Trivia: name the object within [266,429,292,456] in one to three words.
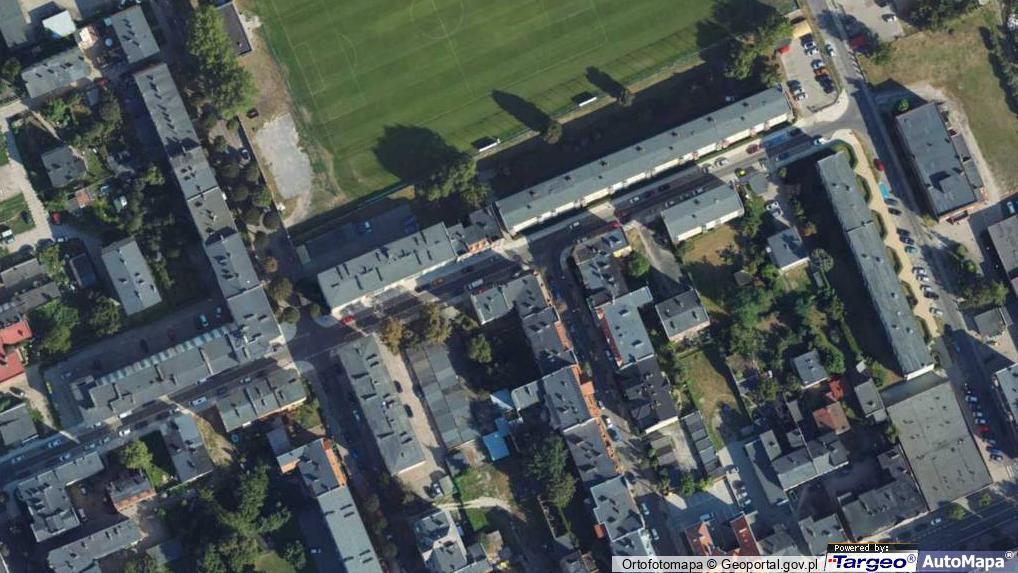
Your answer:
shed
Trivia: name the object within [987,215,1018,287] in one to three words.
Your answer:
building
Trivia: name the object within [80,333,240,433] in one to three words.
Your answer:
house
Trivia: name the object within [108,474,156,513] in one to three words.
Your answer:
house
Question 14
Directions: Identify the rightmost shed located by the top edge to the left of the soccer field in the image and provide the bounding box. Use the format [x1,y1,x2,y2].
[217,1,252,55]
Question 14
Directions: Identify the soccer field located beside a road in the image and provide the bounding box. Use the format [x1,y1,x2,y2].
[261,0,765,196]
